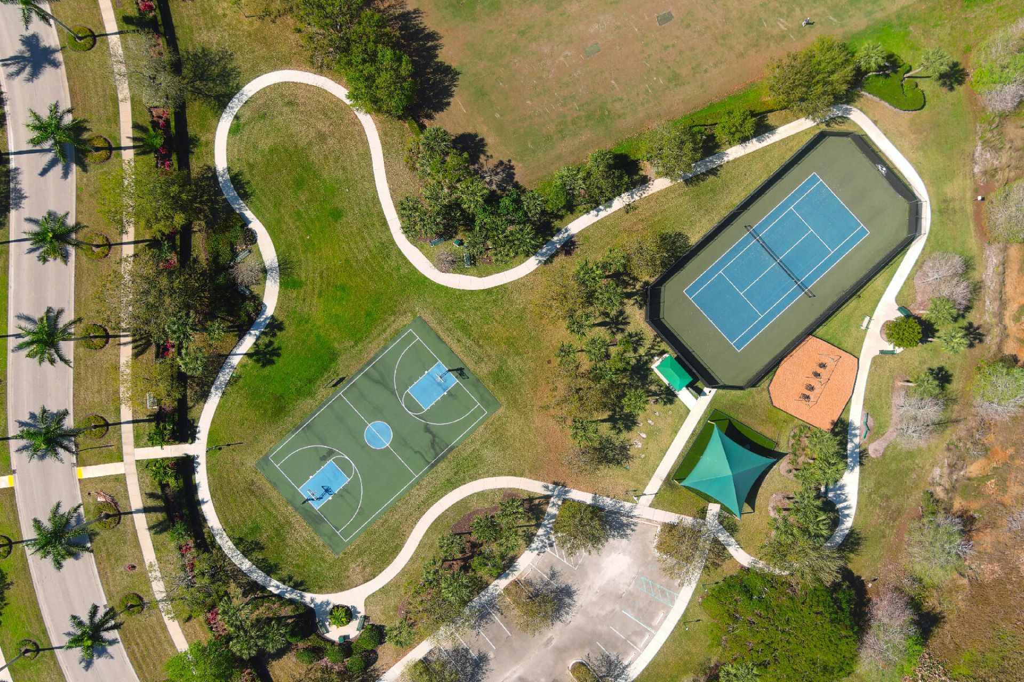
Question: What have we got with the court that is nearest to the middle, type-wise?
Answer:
basketball court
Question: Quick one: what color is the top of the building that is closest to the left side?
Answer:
green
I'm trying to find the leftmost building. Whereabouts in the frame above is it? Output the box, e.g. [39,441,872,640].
[655,355,692,392]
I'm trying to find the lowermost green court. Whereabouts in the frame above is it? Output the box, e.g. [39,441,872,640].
[257,317,500,555]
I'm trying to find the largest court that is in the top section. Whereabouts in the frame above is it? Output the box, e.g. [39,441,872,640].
[644,134,907,390]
